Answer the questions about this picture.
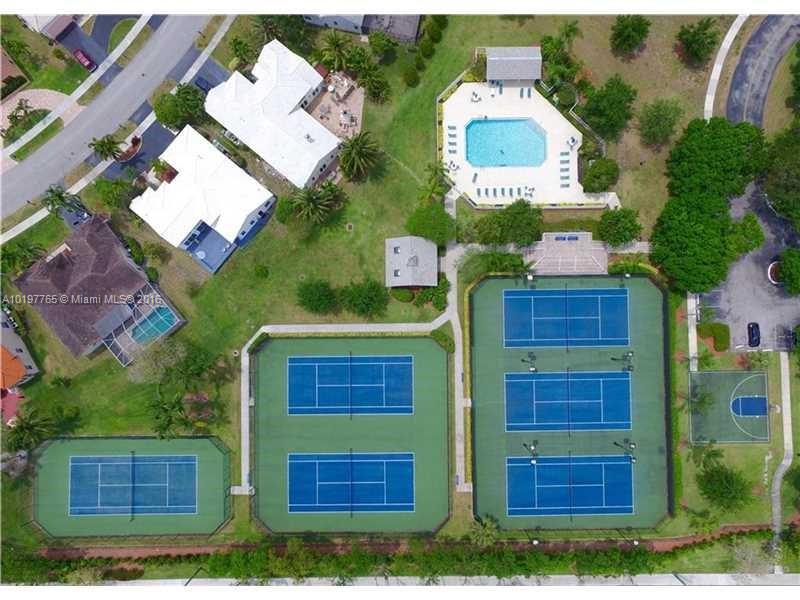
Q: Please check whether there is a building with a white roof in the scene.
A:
Yes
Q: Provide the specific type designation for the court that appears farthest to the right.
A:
basketball court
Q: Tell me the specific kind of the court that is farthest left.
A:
tennis court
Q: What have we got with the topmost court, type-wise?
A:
tennis court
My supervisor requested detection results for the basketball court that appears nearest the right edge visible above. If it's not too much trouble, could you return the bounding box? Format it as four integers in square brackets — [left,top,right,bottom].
[690,372,770,443]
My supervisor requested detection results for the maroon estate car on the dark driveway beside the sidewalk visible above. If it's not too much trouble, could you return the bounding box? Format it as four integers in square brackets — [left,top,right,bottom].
[74,50,99,74]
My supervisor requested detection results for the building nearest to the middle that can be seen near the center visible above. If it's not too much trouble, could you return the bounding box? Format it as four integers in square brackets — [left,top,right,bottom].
[387,235,437,286]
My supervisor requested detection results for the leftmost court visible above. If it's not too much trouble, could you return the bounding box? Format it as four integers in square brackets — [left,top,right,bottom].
[37,437,230,536]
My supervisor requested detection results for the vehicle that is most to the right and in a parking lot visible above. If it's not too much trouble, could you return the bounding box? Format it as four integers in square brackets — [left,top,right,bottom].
[746,323,761,347]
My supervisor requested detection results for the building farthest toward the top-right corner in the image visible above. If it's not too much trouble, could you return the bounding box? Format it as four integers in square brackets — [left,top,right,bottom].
[484,47,543,86]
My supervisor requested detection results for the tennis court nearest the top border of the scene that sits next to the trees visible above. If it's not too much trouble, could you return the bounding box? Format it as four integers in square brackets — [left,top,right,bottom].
[472,277,665,360]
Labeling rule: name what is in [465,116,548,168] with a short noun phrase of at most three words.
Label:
swimming pool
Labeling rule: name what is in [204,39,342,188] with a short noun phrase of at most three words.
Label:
house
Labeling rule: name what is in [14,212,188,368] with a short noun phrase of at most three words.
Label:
house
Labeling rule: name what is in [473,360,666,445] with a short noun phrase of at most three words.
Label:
tennis court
